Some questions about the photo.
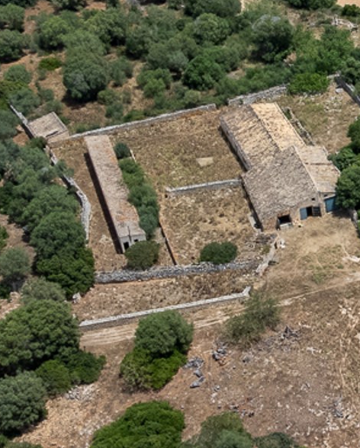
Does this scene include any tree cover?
Yes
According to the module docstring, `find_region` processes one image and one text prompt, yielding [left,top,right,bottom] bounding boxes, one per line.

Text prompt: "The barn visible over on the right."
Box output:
[221,100,349,232]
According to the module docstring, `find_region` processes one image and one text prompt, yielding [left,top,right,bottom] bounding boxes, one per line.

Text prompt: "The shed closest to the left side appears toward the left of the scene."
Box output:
[26,116,76,153]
